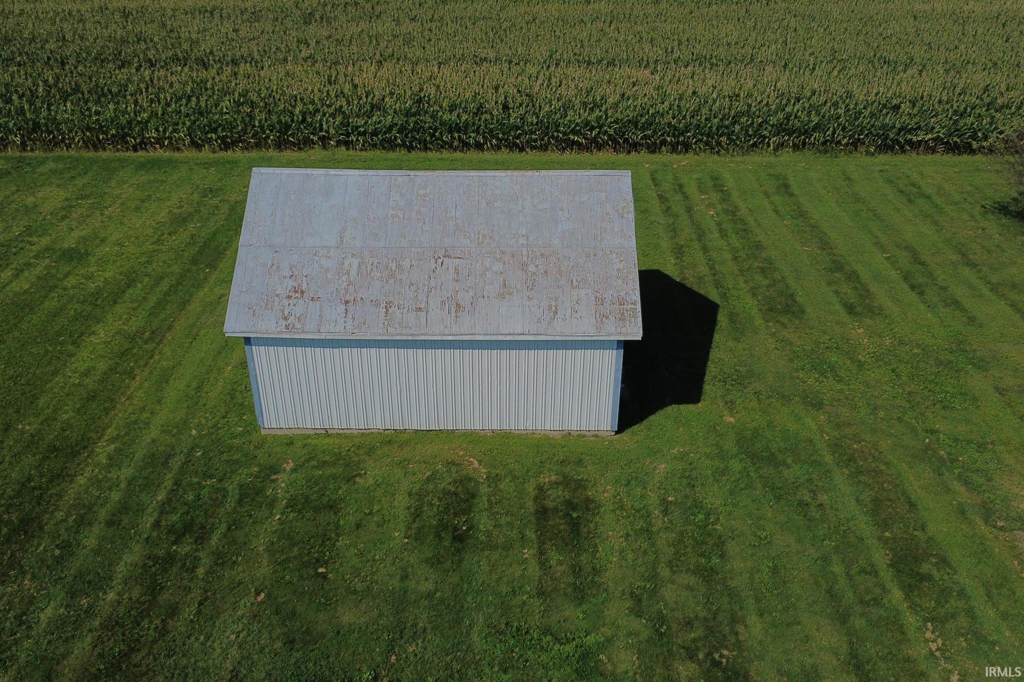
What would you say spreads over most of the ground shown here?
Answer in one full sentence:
The bulk of the photo consists of grass.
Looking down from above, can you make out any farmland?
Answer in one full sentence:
Yes, there is farmland in the image.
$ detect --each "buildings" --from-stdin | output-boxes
[224,165,643,437]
